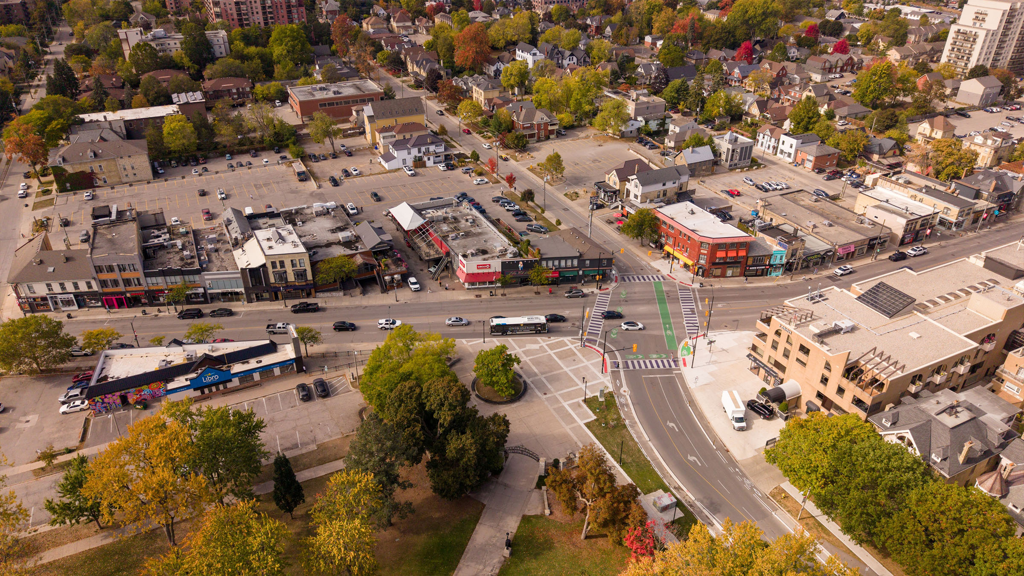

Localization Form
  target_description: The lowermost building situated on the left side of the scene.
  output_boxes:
[86,325,306,417]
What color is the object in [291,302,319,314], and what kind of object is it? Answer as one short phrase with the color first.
black vehicle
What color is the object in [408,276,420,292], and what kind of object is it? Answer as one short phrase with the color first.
white vehicle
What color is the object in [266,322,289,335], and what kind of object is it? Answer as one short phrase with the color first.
gray vehicle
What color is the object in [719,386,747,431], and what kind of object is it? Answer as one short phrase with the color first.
white truck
